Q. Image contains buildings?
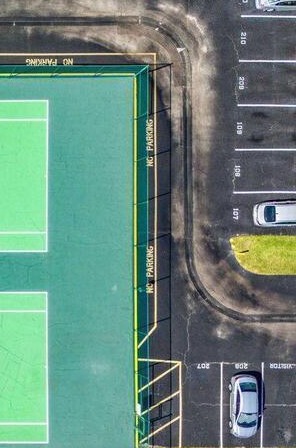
No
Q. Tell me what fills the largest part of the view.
paved ground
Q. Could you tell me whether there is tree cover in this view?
No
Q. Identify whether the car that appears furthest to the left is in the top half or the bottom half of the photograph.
bottom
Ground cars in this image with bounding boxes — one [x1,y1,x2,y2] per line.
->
[256,0,296,12]
[253,200,296,227]
[227,374,261,438]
